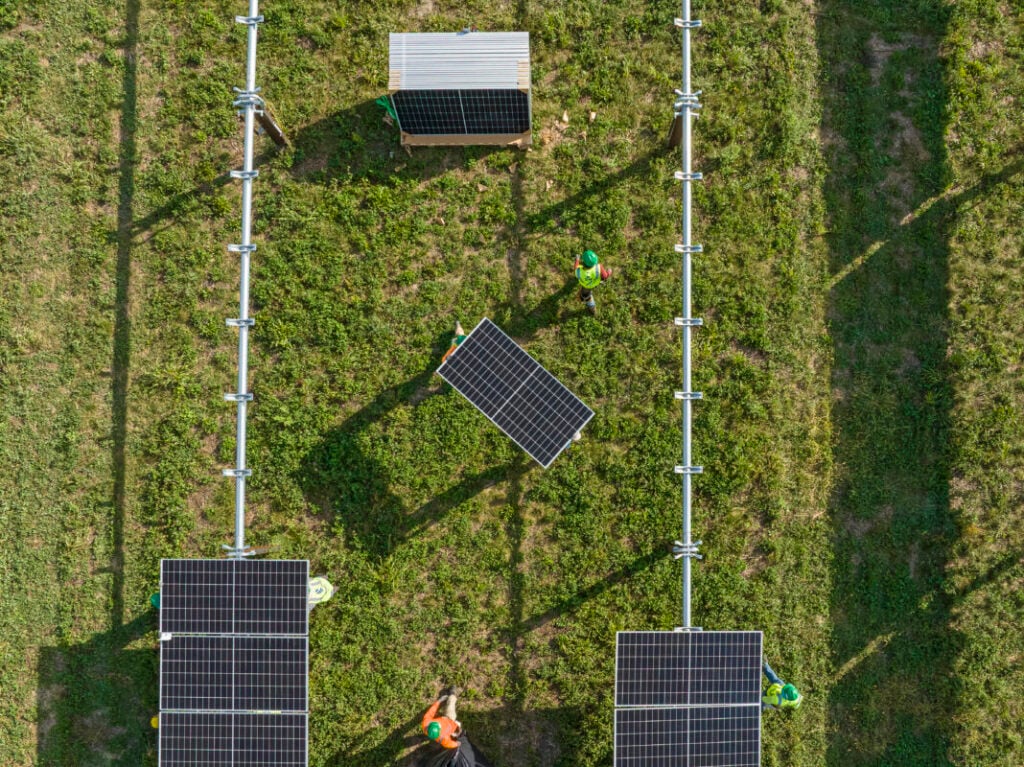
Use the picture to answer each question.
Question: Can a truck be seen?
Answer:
No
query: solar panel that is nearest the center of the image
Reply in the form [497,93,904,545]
[436,317,593,469]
